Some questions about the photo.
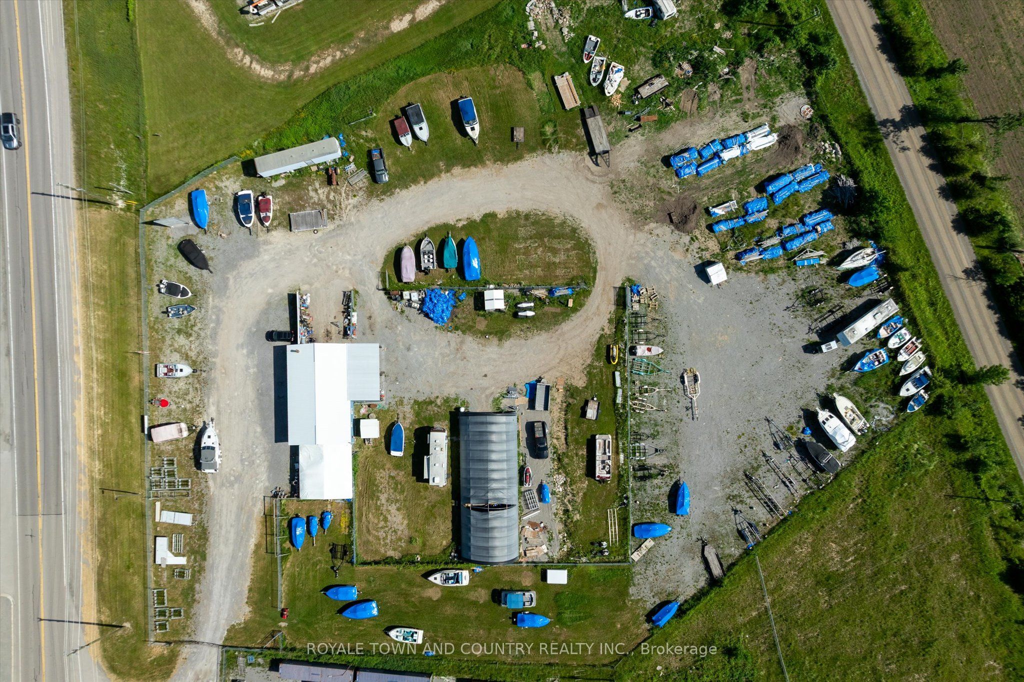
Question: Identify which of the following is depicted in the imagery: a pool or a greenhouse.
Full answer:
Looking from above, you can make out a greenhouse.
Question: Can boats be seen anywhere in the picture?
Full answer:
Yes, a boat can be made out from above.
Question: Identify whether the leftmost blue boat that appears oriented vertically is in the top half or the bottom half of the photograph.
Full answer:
It is in the top half that the leftmost blue boat that appears oriented vertically appears.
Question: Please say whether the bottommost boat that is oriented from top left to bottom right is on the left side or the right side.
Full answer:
You can find the bottommost boat that is oriented from top left to bottom right on the right side of the picture.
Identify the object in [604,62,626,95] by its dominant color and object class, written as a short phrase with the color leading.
white boat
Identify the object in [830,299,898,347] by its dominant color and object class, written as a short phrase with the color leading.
white trailer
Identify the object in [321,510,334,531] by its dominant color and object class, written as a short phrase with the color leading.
blue boat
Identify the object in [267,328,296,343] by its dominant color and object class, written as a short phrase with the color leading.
black car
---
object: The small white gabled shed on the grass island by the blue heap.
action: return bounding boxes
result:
[485,290,504,310]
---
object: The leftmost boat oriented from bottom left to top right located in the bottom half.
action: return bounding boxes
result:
[649,601,680,629]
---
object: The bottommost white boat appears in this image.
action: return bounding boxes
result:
[388,627,424,645]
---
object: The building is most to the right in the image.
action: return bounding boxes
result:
[702,263,727,287]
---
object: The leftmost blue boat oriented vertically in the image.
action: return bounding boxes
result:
[190,186,210,228]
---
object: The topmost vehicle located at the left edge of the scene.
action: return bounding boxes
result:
[2,112,23,151]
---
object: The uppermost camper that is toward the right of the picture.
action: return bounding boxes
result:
[654,0,677,21]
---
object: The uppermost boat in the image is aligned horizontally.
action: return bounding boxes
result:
[624,5,653,19]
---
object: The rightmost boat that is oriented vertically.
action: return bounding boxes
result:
[675,481,690,520]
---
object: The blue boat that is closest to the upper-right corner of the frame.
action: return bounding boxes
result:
[847,264,883,286]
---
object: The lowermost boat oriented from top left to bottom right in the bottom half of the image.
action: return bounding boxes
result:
[805,441,842,478]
